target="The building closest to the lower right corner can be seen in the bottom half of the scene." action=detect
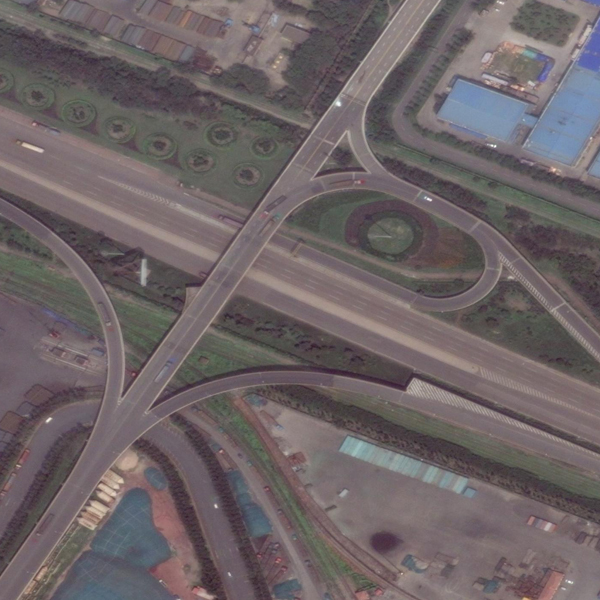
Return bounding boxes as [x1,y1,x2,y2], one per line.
[539,571,567,600]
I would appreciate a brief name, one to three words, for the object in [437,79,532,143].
building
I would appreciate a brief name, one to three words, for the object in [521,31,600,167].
building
